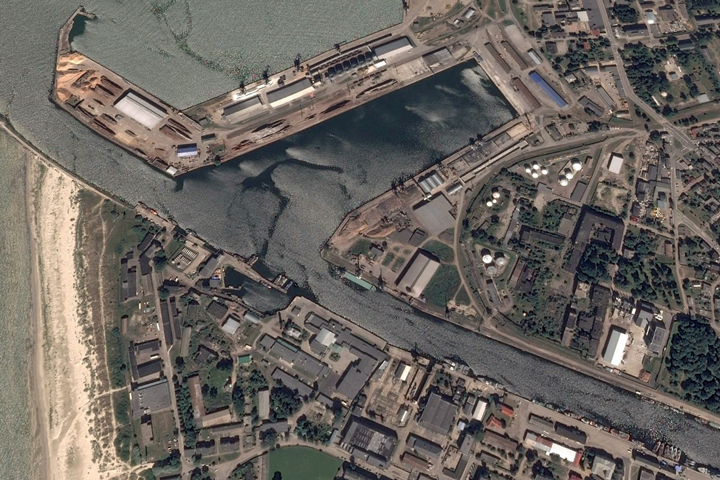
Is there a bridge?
No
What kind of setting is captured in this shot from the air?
port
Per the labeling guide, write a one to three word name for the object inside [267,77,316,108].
building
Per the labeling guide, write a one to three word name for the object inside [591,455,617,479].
house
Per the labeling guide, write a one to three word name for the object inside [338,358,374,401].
building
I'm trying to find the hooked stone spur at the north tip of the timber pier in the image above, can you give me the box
[55,6,95,60]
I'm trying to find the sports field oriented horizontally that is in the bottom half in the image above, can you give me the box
[262,445,342,480]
